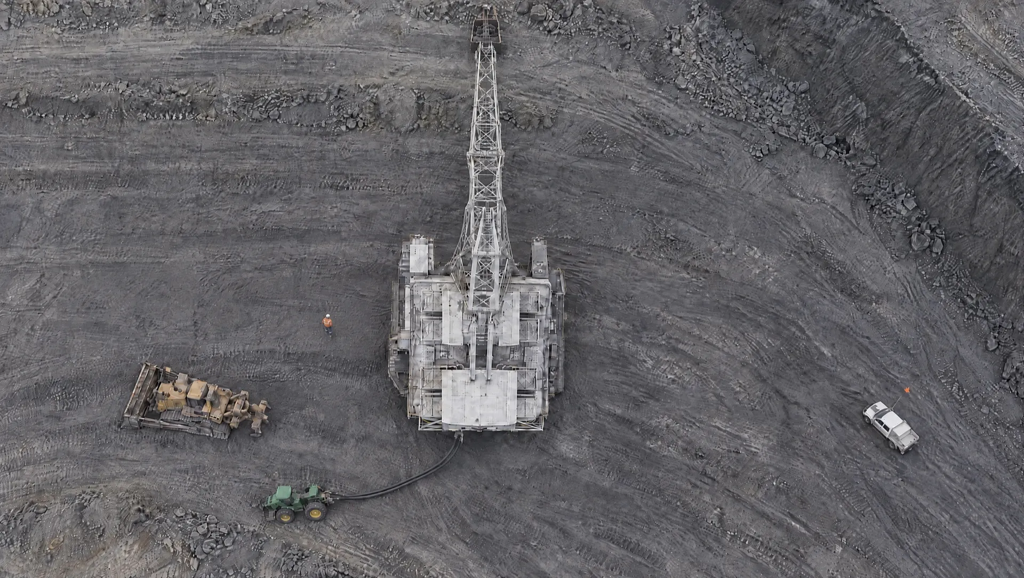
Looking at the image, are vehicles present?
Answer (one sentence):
Yes, this view includes a vehicle.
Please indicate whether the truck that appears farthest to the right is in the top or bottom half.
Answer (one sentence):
The truck that appears farthest to the right sits in the bottom half of the picture.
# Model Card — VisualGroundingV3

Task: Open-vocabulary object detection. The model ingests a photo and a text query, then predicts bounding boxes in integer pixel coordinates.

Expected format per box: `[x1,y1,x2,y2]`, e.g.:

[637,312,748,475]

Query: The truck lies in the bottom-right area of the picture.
[859,387,921,454]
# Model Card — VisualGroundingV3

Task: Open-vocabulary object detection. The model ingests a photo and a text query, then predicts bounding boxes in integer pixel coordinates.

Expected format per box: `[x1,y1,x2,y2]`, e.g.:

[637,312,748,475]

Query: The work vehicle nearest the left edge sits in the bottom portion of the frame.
[120,361,264,446]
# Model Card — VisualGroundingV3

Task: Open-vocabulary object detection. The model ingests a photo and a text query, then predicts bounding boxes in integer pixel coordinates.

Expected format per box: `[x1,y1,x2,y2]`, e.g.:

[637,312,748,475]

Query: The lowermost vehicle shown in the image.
[258,483,335,527]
